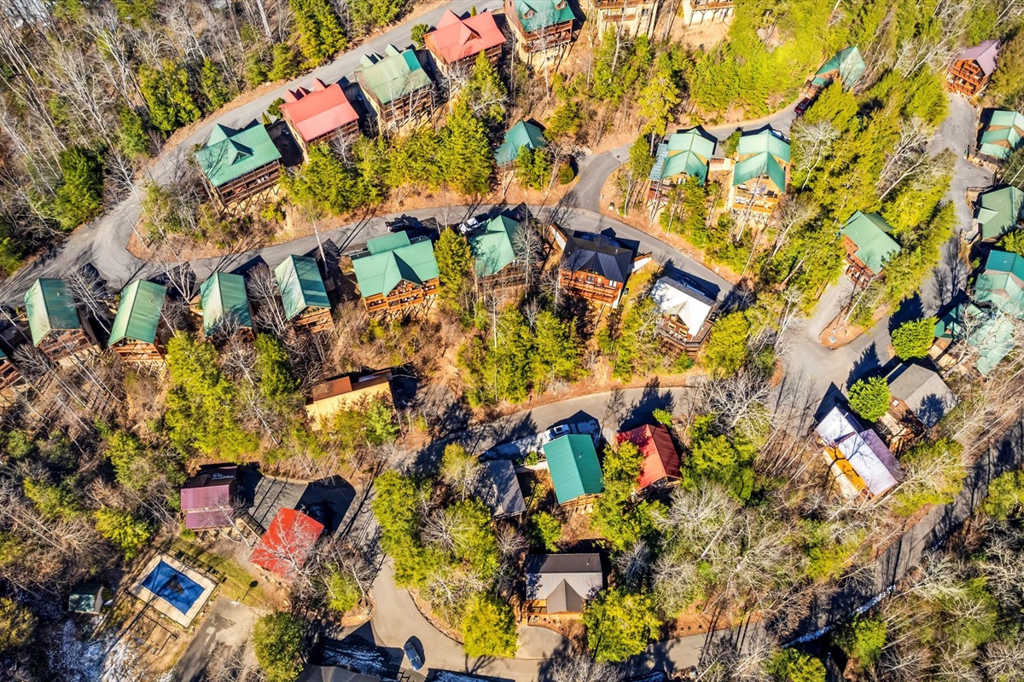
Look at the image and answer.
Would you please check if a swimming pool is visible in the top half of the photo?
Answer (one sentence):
No, there's no swimming pool to be seen in the top half of the photo.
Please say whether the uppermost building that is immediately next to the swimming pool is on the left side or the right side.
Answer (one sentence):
The uppermost building that is immediately next to the swimming pool is on the left side of the image.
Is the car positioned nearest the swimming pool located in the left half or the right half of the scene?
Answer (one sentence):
The car positioned nearest the swimming pool is on the left side of the image.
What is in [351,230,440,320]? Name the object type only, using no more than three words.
building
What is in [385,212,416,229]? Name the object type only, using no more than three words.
vehicle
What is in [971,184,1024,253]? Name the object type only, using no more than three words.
building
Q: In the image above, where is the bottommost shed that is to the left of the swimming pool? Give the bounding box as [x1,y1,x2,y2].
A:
[68,585,108,615]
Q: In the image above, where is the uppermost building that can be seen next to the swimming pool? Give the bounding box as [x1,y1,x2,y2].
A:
[180,466,244,537]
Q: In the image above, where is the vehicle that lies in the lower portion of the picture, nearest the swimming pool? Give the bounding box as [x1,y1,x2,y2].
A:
[307,504,339,526]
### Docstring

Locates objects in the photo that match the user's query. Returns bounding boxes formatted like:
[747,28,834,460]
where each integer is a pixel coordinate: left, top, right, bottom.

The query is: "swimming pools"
[128,553,217,626]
